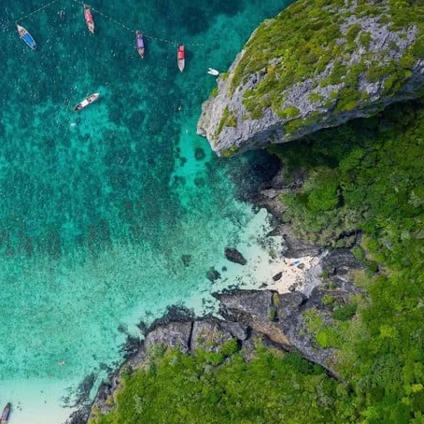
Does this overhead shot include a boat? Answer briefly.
Yes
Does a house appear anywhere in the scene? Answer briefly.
No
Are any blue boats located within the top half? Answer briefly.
Yes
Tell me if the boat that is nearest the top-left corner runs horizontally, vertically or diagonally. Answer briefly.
diagonally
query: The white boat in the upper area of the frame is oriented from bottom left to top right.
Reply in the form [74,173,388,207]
[71,91,100,112]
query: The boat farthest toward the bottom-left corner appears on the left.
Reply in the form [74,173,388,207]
[0,394,15,424]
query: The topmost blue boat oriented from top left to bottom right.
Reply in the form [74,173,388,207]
[16,21,37,50]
